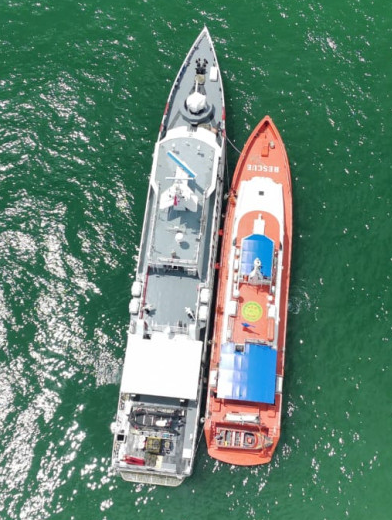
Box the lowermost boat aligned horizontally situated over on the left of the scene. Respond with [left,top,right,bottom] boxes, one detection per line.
[131,409,179,431]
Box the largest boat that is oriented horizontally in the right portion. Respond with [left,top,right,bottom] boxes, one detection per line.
[215,427,269,451]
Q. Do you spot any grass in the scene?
No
